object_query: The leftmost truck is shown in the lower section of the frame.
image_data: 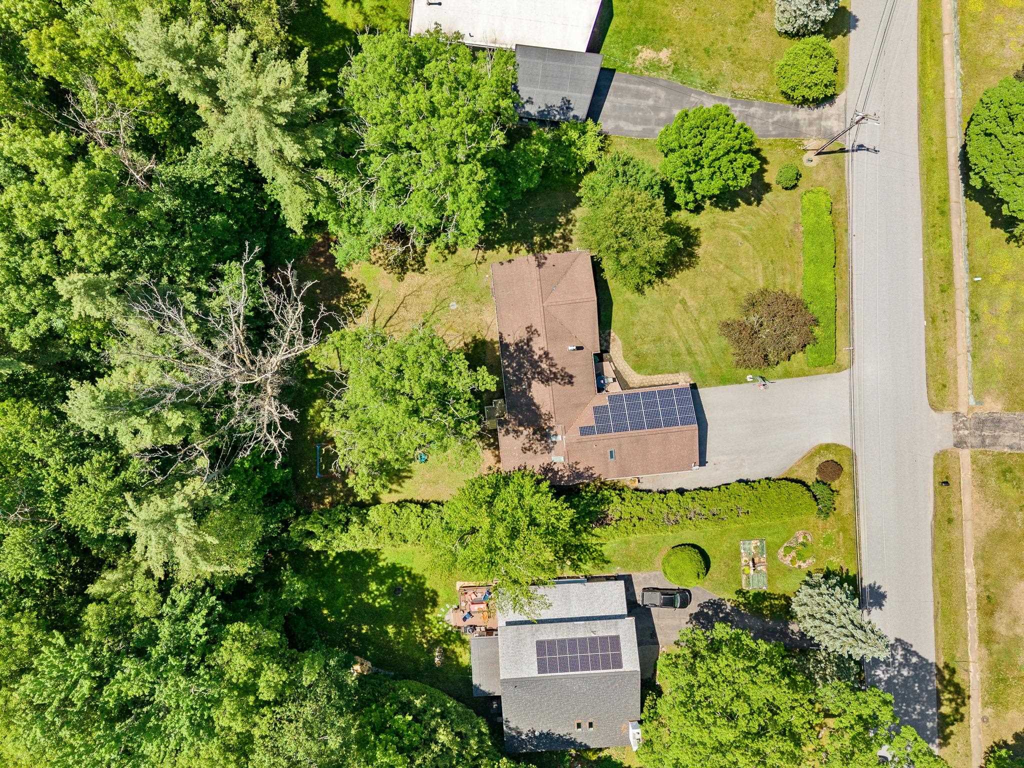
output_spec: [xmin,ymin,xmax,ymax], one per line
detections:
[637,586,691,610]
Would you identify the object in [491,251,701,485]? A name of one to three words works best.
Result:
house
